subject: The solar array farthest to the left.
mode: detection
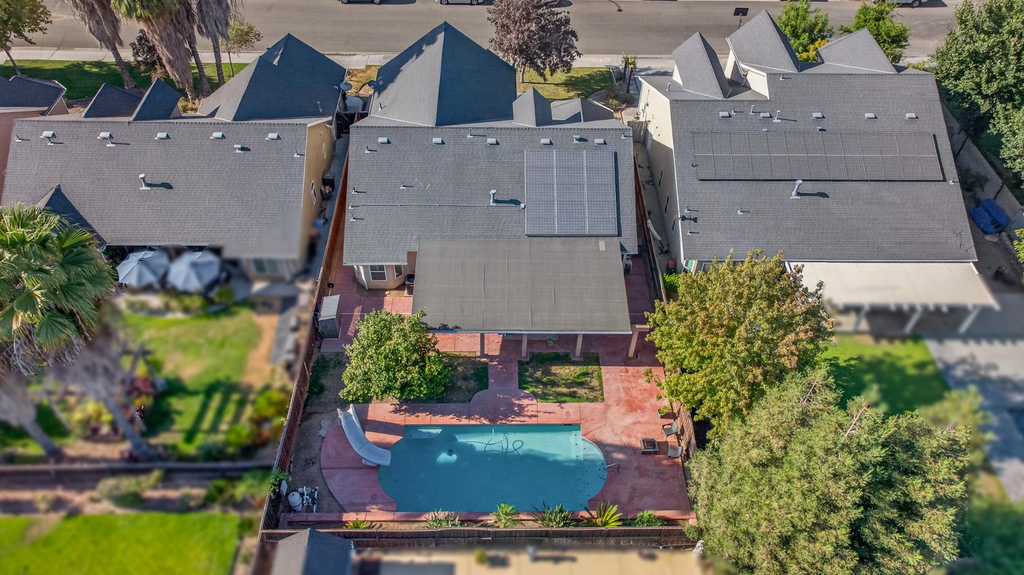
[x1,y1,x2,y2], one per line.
[524,148,619,235]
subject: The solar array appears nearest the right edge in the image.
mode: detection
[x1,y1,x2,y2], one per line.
[692,132,942,181]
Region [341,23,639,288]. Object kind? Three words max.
house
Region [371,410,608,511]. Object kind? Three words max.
swimming pool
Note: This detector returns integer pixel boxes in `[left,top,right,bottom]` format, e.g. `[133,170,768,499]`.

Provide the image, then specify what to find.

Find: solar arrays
[524,148,619,235]
[692,132,942,181]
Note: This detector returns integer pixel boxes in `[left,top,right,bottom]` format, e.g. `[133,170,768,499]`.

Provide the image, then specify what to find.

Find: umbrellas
[117,249,173,305]
[166,254,223,306]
